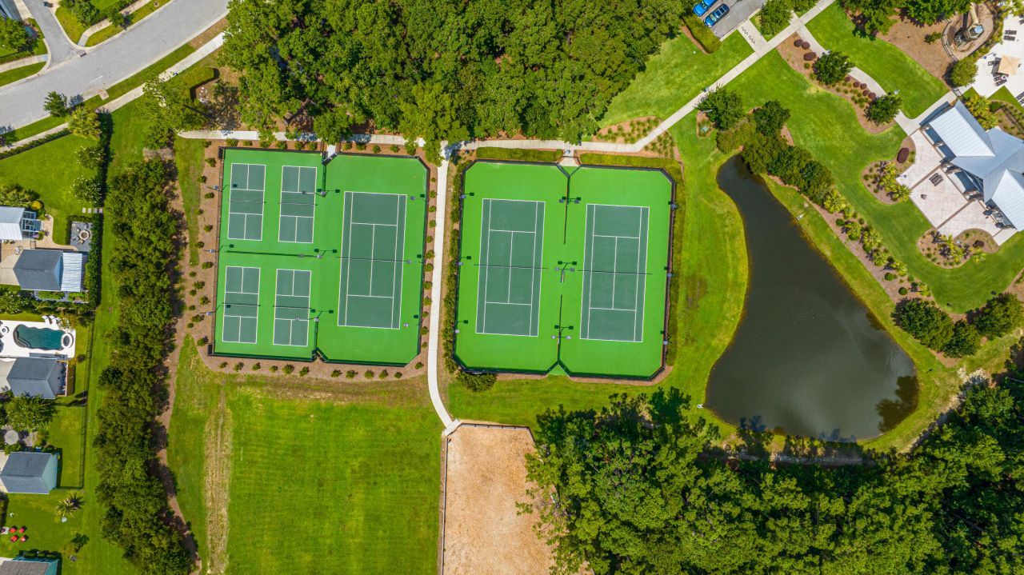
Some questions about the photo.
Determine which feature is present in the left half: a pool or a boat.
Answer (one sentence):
The one visible in the left half is a pool.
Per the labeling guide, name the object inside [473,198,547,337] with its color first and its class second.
green tennis court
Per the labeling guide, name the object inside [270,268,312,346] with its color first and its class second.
green sports court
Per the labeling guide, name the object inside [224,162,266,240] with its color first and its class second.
green sports court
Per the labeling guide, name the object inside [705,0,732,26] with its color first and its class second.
blue car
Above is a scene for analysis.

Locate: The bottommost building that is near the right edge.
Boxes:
[920,99,1024,226]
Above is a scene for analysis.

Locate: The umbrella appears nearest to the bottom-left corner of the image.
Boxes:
[6,430,23,444]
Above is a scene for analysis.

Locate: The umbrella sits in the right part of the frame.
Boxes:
[996,58,1016,74]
